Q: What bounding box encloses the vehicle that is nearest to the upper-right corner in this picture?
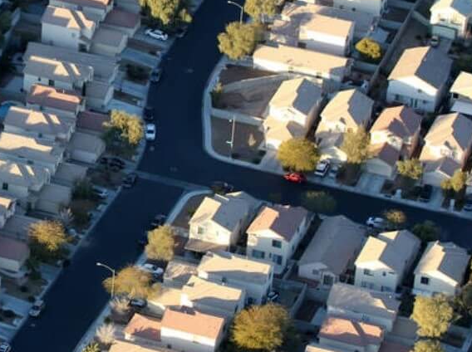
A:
[428,32,444,47]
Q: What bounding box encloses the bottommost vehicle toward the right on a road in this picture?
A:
[361,212,389,229]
